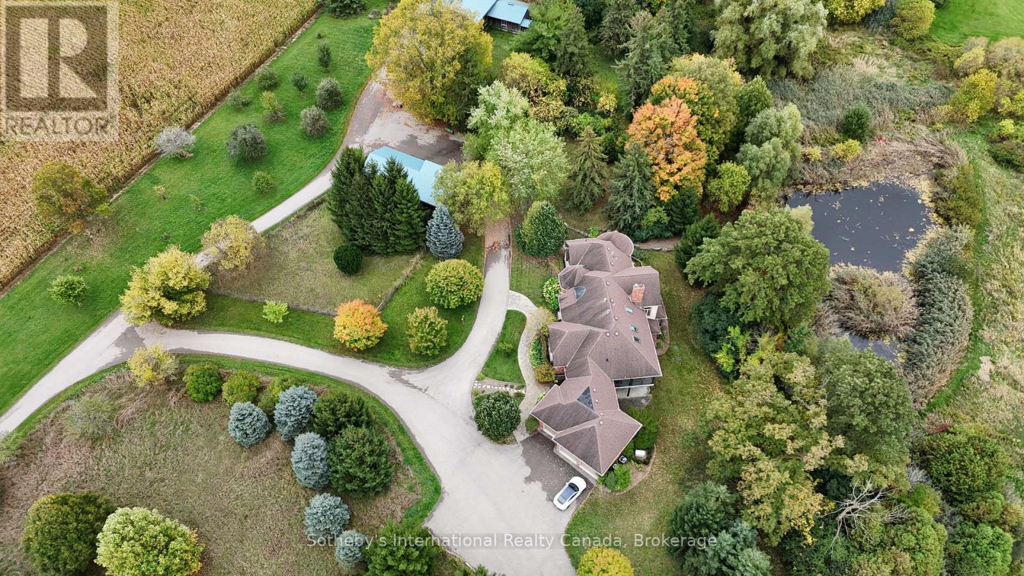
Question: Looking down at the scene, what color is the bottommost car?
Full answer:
In this view, the bottommost car is white.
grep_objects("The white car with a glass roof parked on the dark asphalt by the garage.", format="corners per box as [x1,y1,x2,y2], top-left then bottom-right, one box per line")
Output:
[552,471,589,509]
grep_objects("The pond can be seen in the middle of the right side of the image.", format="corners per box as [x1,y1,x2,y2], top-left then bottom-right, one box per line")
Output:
[783,179,934,367]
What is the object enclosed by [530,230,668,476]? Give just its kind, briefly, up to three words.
house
